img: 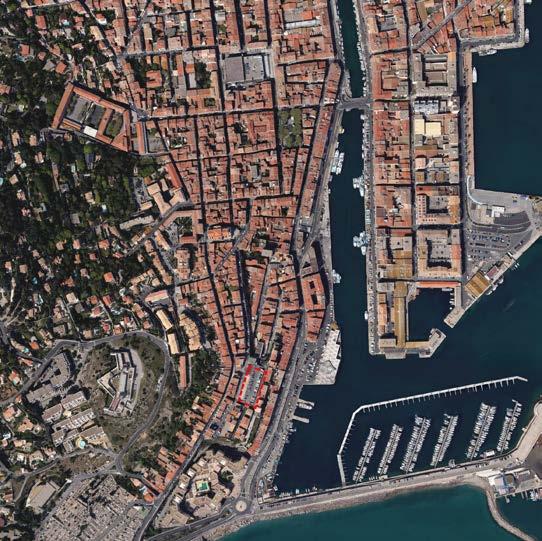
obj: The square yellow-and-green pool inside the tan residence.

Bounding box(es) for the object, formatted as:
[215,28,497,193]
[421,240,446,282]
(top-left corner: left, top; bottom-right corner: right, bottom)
[195,477,212,497]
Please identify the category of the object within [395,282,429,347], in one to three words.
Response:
building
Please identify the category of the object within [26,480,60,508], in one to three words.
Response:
building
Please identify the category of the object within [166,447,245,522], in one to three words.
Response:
house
